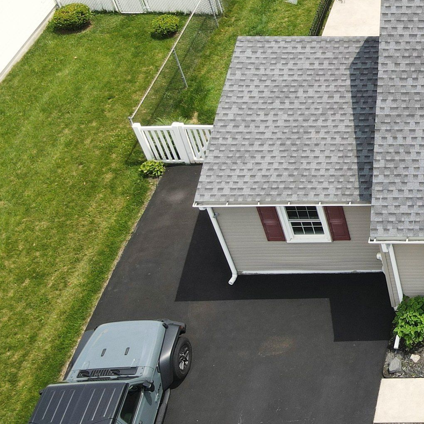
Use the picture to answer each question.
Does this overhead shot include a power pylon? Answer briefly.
No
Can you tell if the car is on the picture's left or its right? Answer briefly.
left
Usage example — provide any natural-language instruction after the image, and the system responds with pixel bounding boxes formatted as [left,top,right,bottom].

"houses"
[190,0,424,313]
[0,0,60,81]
